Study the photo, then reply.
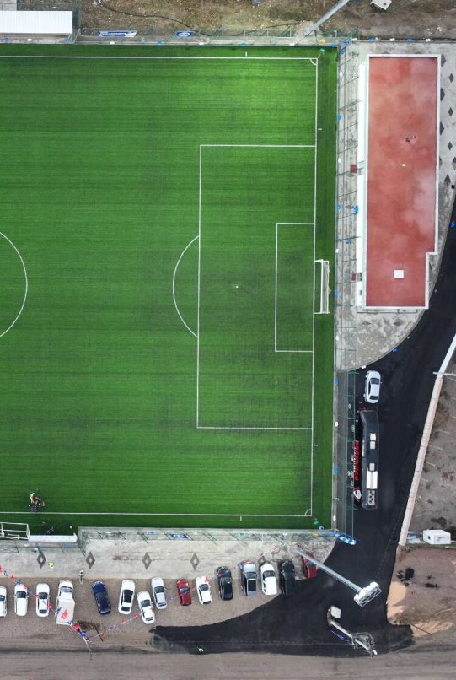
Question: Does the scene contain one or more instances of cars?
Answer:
Yes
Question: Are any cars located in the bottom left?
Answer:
Yes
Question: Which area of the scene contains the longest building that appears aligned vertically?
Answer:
top right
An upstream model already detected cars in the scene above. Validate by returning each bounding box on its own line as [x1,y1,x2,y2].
[279,560,298,596]
[135,590,154,624]
[363,371,381,403]
[118,579,135,615]
[216,566,233,600]
[91,581,112,615]
[259,561,277,594]
[0,585,8,617]
[195,575,211,605]
[300,552,317,579]
[150,577,166,609]
[176,578,191,606]
[36,583,51,617]
[241,561,259,597]
[13,584,30,616]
